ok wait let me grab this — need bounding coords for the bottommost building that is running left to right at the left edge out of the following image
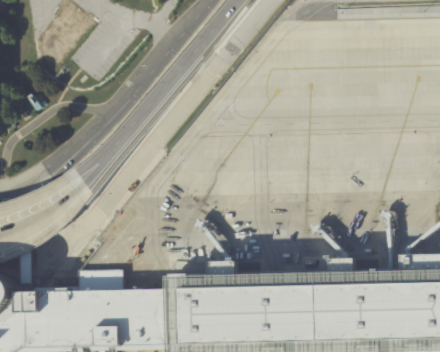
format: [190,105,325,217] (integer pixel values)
[0,288,163,352]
